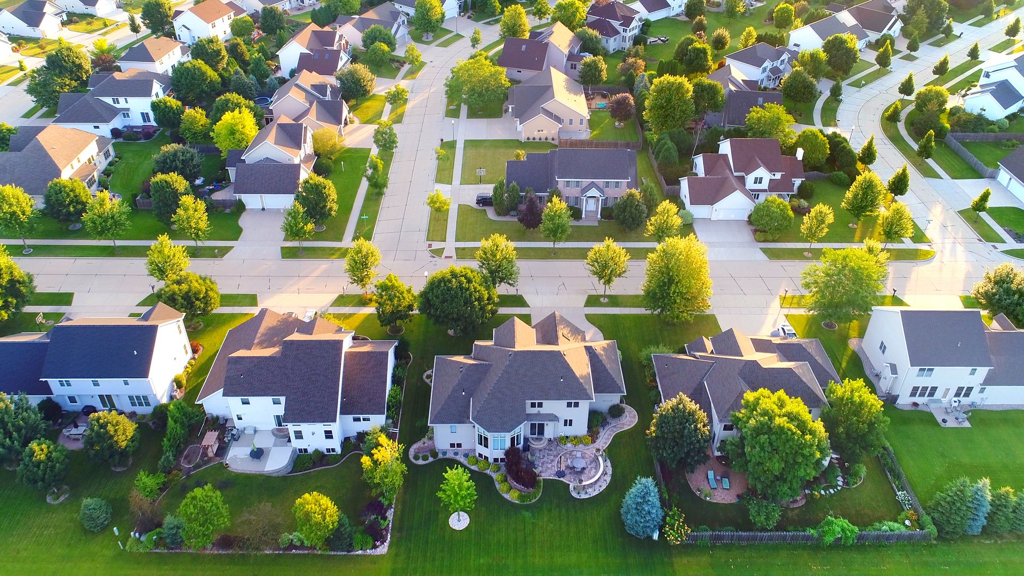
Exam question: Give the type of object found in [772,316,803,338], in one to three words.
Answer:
car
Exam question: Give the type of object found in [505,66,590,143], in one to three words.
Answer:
house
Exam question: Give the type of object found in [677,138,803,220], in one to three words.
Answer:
house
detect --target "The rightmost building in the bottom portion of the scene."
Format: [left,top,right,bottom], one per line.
[864,297,1024,403]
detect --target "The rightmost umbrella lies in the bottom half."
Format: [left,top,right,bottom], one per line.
[555,455,567,478]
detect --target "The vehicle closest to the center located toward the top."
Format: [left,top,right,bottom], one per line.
[471,193,499,207]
